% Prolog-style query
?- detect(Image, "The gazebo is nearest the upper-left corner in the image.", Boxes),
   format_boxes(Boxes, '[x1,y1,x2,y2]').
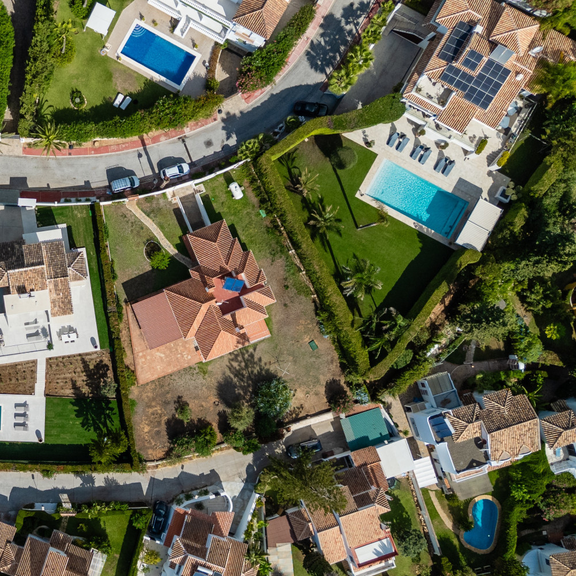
[84,2,117,40]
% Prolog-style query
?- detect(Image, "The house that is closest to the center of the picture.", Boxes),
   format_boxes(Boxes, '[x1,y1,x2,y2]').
[132,219,277,361]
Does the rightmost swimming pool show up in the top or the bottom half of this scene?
bottom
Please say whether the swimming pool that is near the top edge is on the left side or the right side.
left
